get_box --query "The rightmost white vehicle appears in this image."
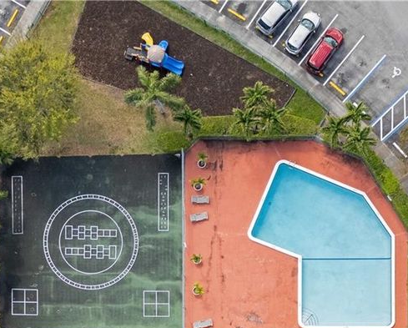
[284,10,322,57]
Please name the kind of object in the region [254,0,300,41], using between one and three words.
car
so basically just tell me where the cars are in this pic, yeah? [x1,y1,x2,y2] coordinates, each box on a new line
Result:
[305,25,347,77]
[284,10,322,57]
[254,0,300,41]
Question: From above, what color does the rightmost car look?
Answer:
red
